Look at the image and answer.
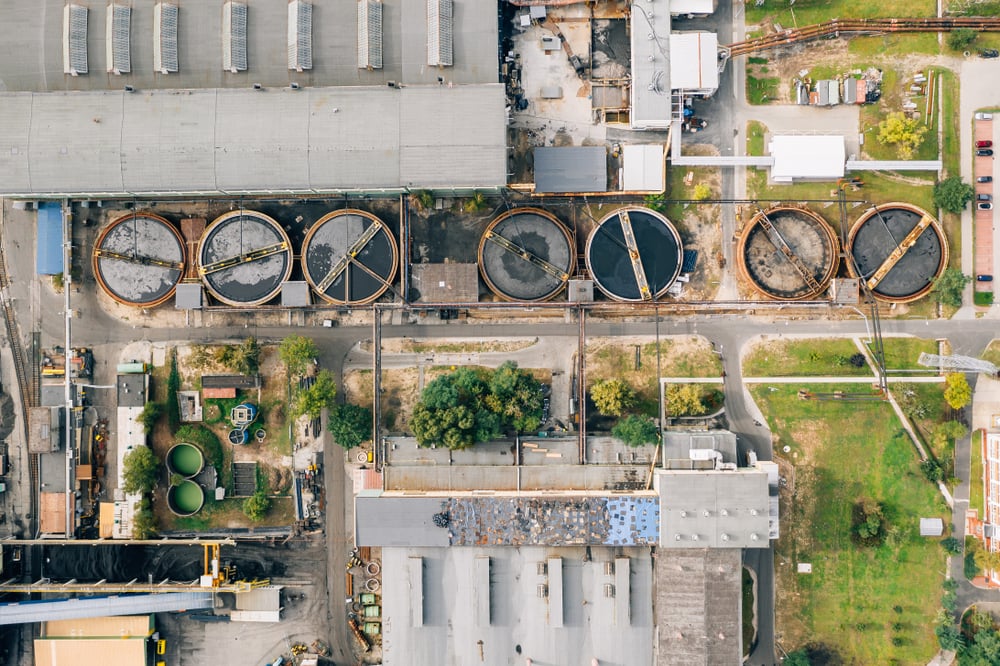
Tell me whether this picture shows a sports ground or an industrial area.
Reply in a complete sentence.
This looks like an industrial area.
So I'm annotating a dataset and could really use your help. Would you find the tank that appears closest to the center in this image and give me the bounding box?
[479,192,577,303]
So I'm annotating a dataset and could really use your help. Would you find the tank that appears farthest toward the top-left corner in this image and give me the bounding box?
[92,198,187,307]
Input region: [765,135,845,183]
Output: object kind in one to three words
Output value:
shed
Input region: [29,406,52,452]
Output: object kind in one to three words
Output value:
shed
